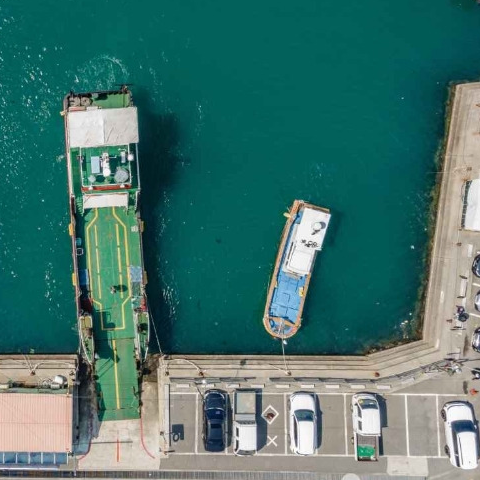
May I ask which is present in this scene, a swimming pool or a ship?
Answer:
ship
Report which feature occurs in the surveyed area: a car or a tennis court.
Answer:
car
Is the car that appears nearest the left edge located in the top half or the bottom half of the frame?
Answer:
bottom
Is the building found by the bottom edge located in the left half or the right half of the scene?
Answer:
left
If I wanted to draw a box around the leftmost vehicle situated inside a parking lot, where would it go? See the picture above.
[202,387,230,452]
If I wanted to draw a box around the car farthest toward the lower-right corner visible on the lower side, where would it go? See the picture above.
[441,399,480,470]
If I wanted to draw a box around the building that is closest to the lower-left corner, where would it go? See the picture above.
[0,385,73,469]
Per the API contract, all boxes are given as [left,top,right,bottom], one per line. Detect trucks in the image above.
[232,389,261,456]
[352,393,384,461]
